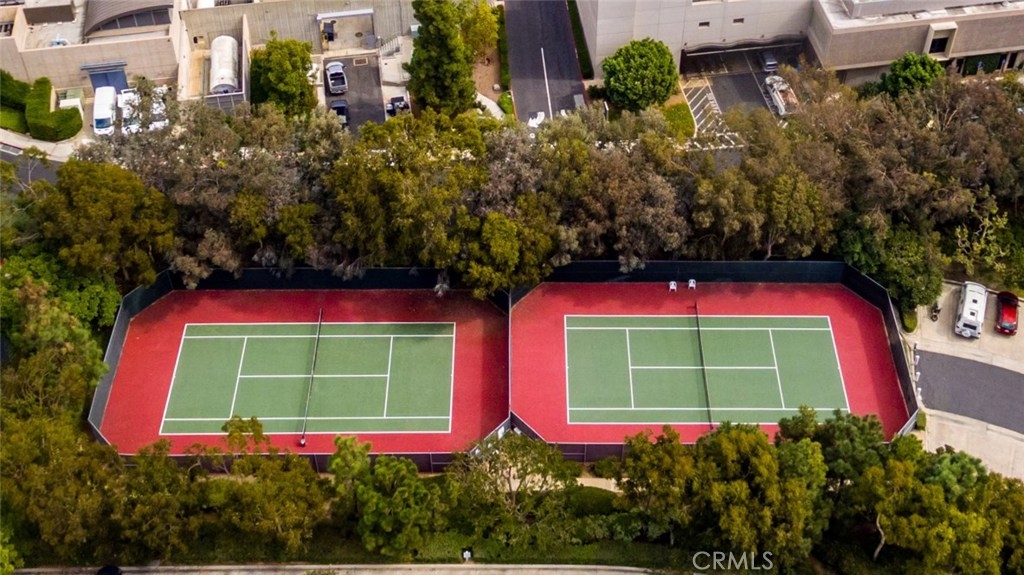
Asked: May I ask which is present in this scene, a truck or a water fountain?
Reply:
truck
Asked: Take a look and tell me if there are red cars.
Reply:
Yes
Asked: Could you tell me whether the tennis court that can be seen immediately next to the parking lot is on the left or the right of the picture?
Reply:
right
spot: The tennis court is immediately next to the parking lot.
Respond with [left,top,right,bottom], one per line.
[511,282,909,446]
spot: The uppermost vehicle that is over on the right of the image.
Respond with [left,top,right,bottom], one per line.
[754,47,782,76]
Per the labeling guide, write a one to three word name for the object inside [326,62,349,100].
truck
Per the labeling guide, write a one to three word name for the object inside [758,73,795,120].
truck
